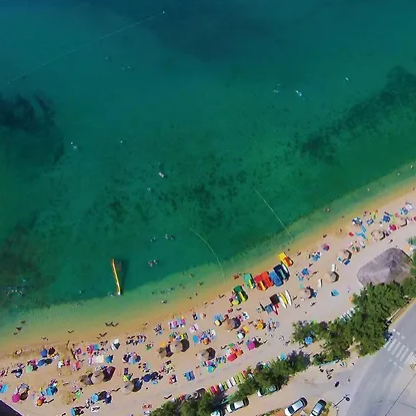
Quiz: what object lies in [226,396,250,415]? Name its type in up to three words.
car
